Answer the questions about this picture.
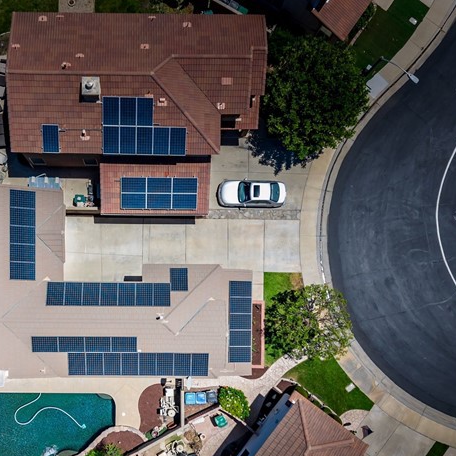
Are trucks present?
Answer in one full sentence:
No, I find no truck anywhere in the image.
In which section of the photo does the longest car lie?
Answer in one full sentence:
Look in the center portion of the view to spot the longest car.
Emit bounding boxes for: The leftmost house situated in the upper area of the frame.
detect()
[5,10,268,217]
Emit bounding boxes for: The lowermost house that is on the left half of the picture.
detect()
[0,184,252,387]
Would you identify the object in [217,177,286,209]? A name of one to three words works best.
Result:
car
